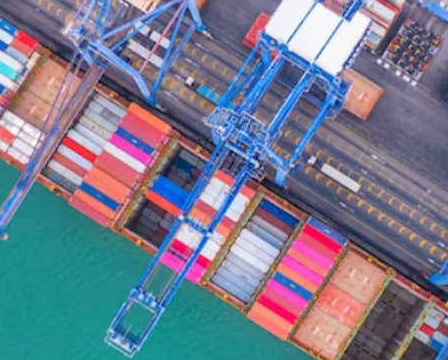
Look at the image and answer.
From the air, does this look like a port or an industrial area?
port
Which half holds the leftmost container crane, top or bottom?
top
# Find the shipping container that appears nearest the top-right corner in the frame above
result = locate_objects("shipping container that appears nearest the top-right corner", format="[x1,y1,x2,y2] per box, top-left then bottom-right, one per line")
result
[419,0,448,26]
